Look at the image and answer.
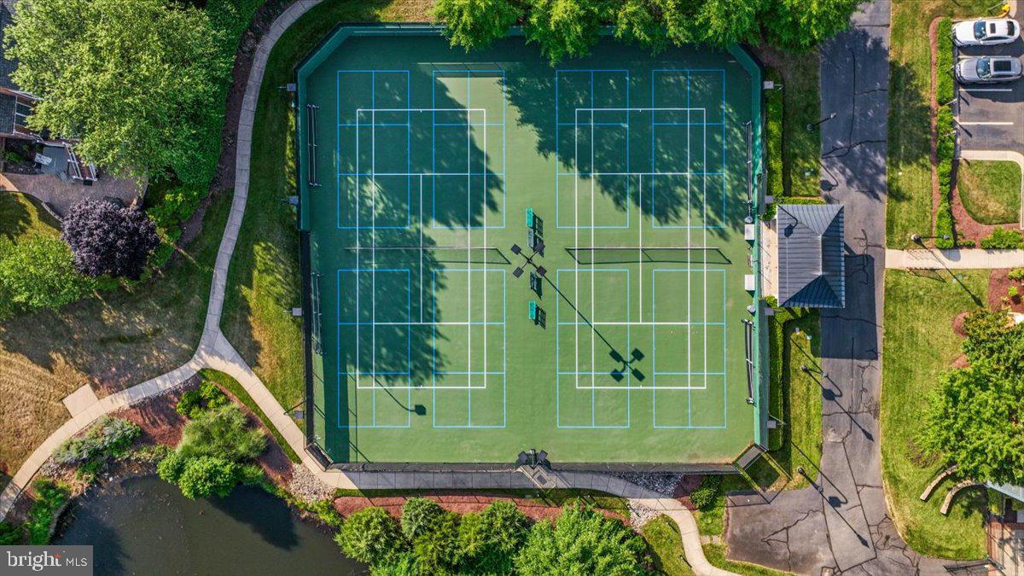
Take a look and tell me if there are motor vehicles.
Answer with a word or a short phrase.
Yes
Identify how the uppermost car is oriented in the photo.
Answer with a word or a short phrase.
from side to side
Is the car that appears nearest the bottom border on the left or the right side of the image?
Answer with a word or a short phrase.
right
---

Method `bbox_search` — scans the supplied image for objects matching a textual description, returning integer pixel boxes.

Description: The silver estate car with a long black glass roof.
[955,54,1024,84]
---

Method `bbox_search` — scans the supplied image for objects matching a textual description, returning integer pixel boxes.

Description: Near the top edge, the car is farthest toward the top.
[953,17,1020,46]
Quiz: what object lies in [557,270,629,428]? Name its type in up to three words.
sports court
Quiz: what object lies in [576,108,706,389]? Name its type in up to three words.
tennis court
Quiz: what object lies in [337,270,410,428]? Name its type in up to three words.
sports court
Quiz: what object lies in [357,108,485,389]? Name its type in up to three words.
tennis court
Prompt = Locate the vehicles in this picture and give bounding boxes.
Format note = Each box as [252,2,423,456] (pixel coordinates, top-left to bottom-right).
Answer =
[955,54,1024,84]
[953,17,1020,46]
